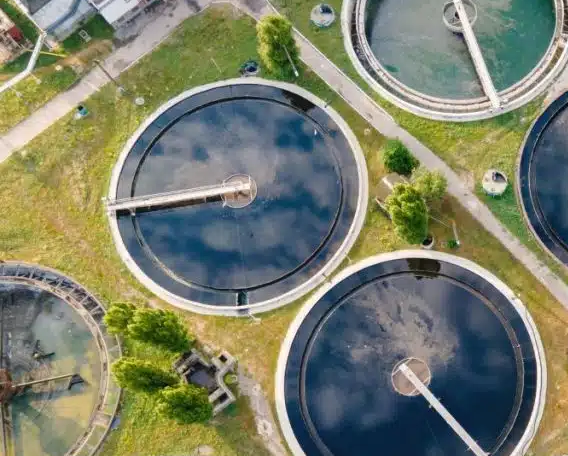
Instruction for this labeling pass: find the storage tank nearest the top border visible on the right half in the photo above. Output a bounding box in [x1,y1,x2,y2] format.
[344,0,568,121]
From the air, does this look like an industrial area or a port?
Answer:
industrial area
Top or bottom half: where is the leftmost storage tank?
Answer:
bottom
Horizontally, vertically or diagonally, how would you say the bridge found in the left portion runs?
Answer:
horizontally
